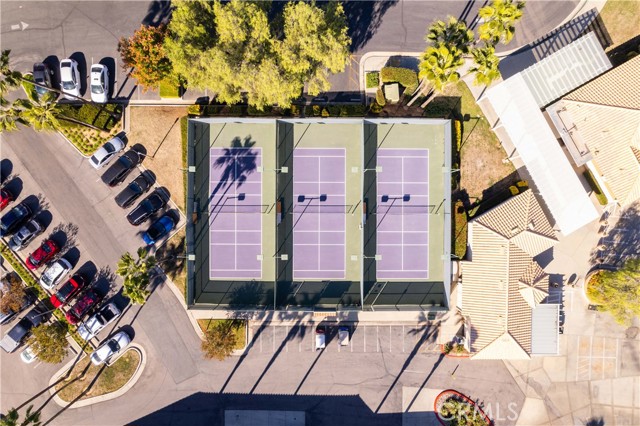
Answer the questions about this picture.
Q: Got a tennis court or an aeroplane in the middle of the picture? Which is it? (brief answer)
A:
tennis court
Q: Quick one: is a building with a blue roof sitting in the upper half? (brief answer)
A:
No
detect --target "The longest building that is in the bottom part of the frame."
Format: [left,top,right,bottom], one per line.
[456,188,560,360]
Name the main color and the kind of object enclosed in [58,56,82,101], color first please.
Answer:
white car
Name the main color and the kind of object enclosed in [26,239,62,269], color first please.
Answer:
red car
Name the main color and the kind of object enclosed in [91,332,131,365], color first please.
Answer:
white car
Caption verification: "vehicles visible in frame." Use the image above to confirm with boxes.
[125,189,172,227]
[64,289,105,322]
[99,149,145,185]
[26,239,62,269]
[91,332,131,365]
[338,324,349,345]
[0,313,46,352]
[0,186,19,211]
[31,60,54,98]
[88,134,128,166]
[114,171,157,206]
[58,56,82,101]
[78,302,122,338]
[0,202,36,235]
[19,344,41,364]
[7,219,46,250]
[39,258,76,288]
[88,62,111,105]
[48,275,89,308]
[140,214,181,243]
